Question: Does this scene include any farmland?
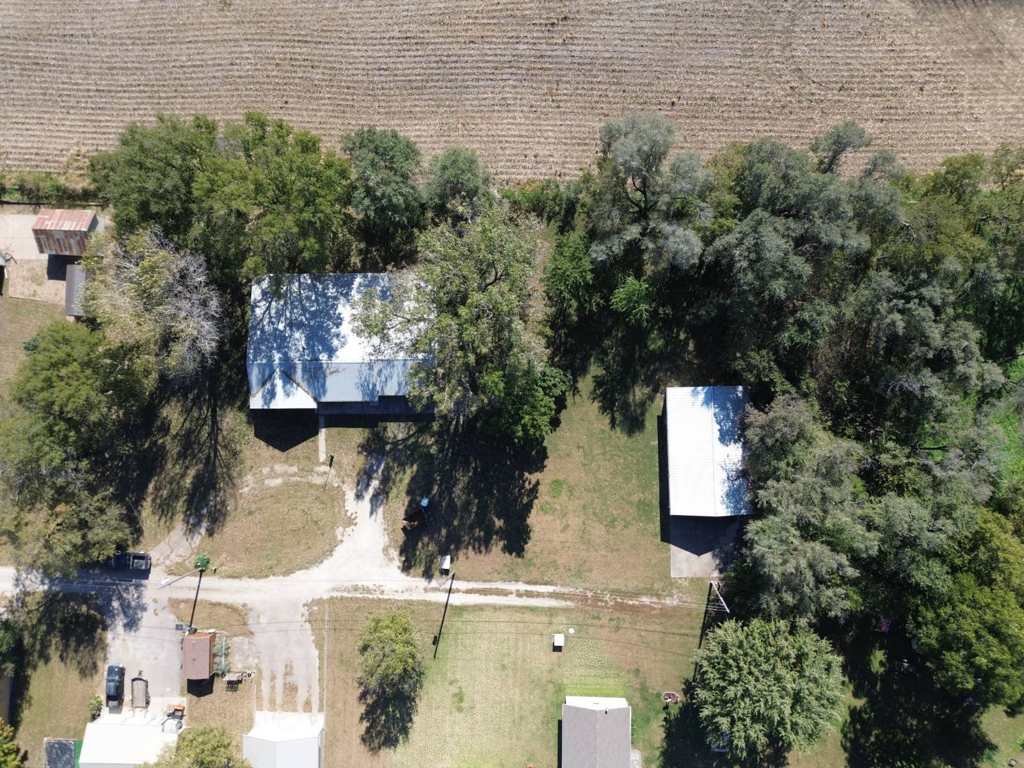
Yes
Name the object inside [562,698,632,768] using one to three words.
house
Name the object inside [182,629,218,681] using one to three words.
shed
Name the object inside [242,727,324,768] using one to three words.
building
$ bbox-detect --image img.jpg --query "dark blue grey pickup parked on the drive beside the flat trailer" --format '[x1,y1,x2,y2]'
[106,661,128,710]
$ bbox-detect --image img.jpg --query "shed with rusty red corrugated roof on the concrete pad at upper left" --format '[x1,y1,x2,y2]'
[32,208,104,258]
